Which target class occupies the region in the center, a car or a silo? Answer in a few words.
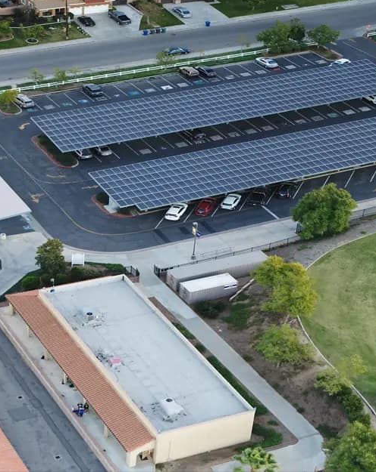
car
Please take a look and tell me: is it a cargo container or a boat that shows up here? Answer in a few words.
cargo container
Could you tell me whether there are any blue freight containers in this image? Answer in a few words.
No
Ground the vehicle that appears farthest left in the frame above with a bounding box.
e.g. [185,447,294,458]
[16,95,36,108]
